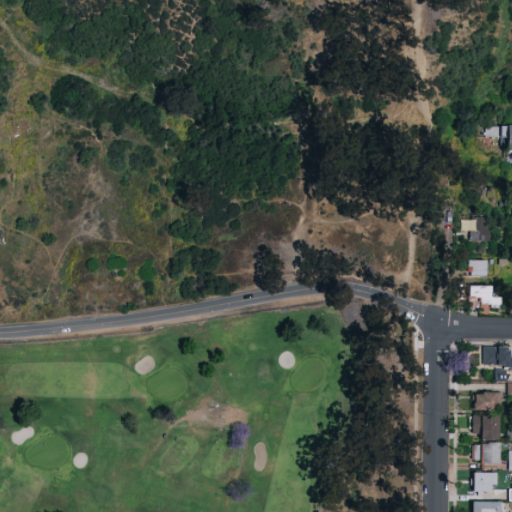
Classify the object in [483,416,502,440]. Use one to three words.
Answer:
house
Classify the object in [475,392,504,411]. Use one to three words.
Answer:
house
